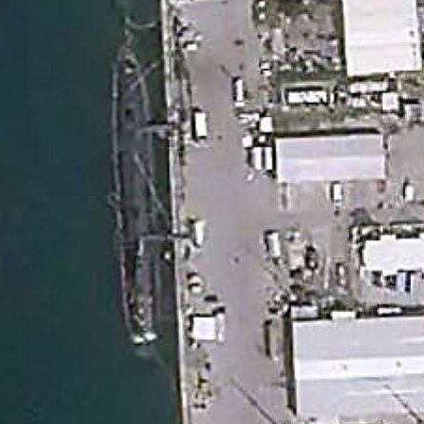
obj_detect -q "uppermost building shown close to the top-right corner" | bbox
[342,0,422,76]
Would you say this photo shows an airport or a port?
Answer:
port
